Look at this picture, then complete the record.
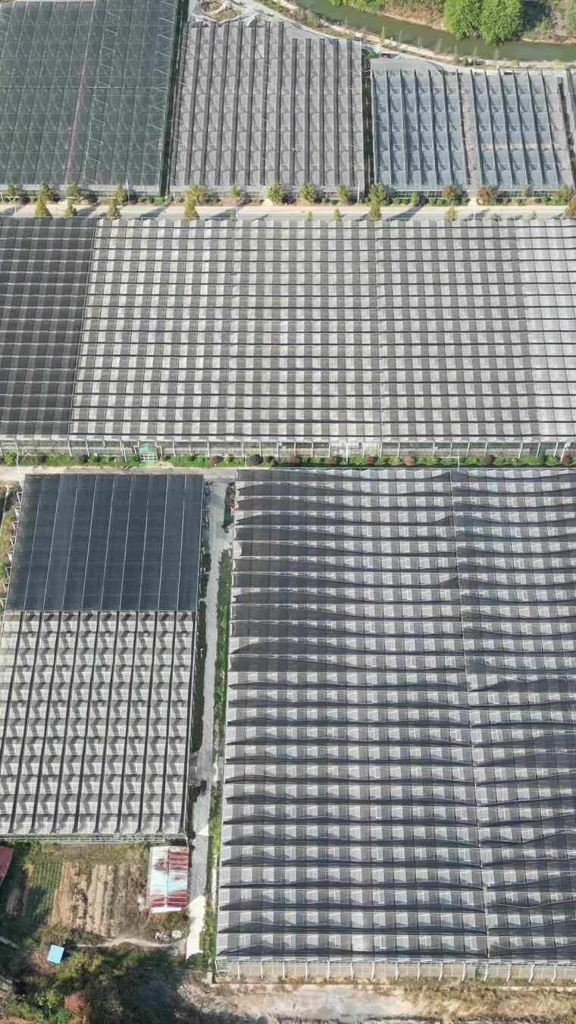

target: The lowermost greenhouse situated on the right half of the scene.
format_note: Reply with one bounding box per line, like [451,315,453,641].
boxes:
[215,465,576,983]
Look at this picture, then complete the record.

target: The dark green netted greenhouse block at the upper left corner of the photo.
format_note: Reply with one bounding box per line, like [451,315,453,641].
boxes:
[0,0,179,199]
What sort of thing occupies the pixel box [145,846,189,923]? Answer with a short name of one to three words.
shed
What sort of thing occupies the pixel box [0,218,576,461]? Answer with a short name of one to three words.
greenhouse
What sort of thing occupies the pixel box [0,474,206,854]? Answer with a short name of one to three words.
greenhouse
